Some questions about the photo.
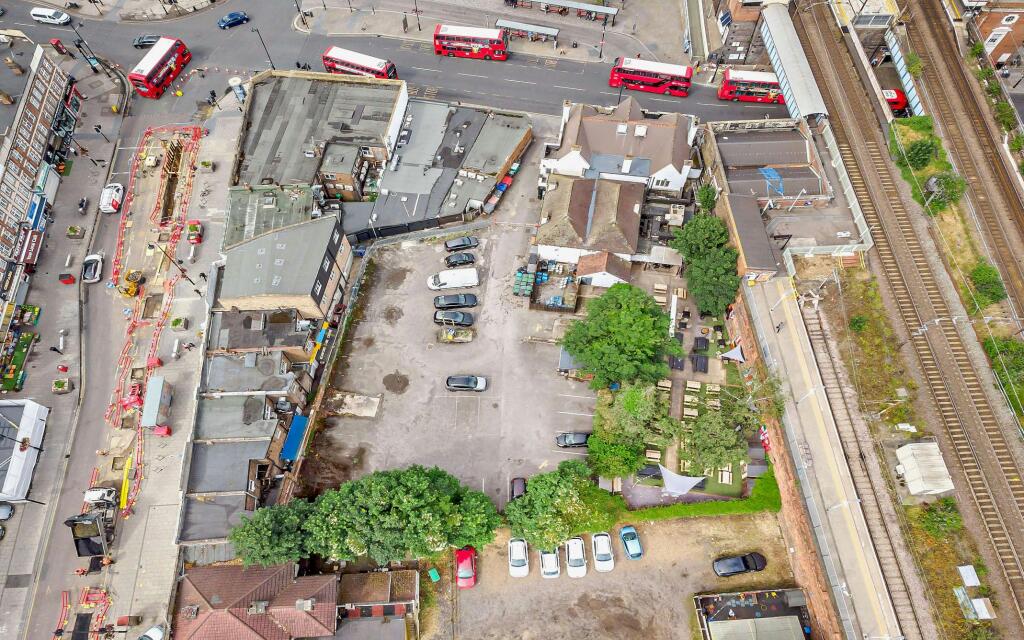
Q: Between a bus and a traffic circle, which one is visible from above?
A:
bus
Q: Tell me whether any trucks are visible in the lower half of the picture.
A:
Yes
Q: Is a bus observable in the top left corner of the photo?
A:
Yes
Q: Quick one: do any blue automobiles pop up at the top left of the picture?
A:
Yes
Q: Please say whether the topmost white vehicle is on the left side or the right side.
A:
left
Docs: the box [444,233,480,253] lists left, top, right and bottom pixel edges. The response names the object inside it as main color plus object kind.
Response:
gray car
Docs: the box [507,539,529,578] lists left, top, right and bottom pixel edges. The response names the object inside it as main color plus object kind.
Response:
white car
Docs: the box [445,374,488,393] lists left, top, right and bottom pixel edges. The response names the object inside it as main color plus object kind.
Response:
gray car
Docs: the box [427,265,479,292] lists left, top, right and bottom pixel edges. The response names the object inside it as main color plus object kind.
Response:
white vehicle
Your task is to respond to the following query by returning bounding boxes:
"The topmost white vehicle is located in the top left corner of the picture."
[24,2,74,28]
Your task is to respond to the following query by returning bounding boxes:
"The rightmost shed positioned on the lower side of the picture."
[886,443,954,498]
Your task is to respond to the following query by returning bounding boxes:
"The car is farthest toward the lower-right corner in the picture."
[711,551,769,580]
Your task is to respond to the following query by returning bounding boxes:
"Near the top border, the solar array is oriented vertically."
[716,8,729,44]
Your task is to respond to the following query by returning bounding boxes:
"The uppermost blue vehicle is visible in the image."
[216,10,249,31]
